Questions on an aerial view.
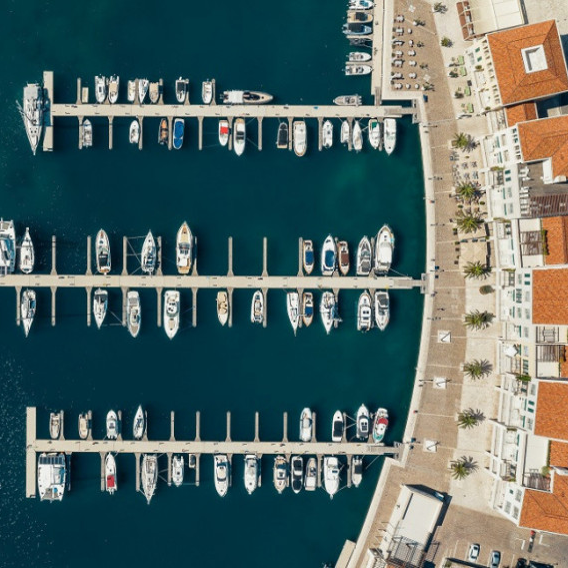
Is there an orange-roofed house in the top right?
Yes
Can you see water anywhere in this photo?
Yes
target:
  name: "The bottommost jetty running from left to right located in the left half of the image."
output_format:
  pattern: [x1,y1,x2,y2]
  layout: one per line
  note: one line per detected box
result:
[26,406,384,498]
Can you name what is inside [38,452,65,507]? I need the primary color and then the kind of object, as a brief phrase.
white boat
